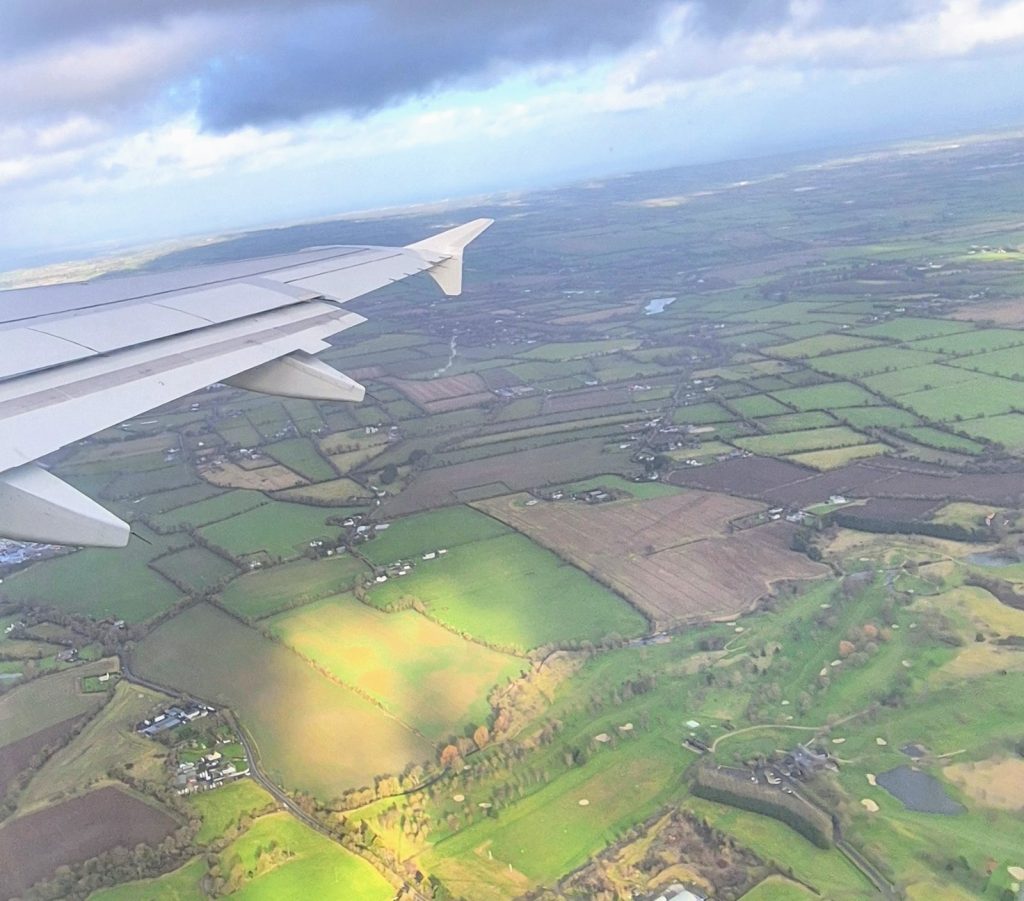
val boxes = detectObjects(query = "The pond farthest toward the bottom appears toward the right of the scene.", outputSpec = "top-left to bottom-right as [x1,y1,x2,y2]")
[875,765,968,814]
